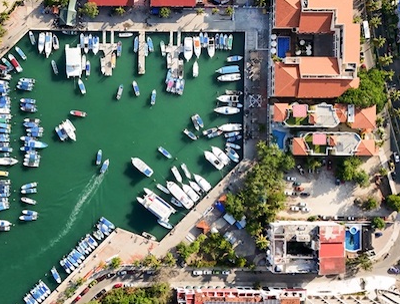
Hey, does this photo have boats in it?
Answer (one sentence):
Yes, a boat appears in the view.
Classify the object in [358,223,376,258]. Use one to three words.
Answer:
house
